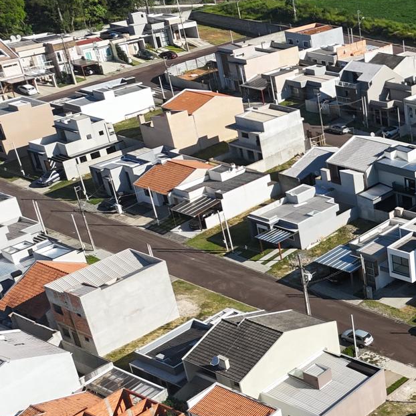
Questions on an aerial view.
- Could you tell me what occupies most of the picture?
buildings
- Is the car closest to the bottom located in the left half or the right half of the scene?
right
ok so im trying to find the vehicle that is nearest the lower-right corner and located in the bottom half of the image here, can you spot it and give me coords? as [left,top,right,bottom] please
[343,324,374,345]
